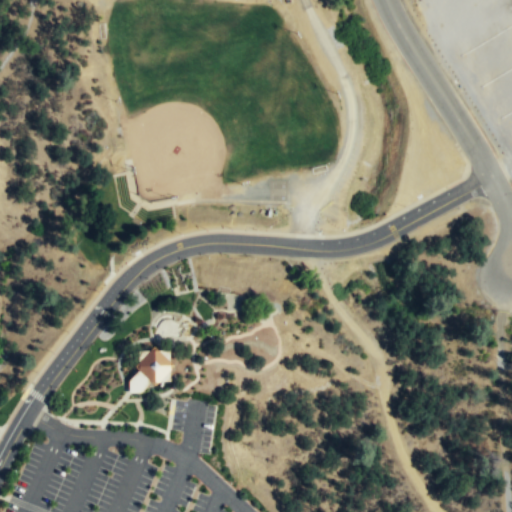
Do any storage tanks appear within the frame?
No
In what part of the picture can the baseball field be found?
top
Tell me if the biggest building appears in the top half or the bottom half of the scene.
bottom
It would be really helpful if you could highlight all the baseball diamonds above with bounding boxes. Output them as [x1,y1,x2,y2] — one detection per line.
[109,0,340,201]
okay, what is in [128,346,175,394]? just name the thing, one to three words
building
